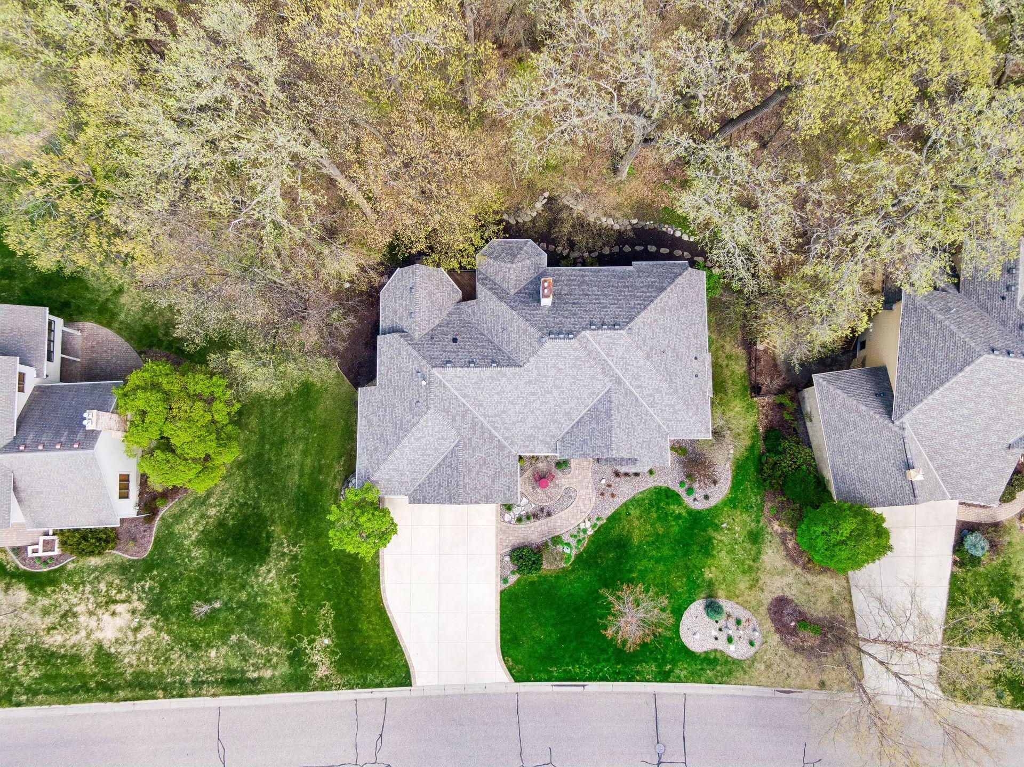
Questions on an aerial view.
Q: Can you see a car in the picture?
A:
No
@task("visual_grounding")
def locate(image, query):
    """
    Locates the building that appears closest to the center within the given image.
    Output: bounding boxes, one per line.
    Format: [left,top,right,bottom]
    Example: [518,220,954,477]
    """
[355,238,714,504]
